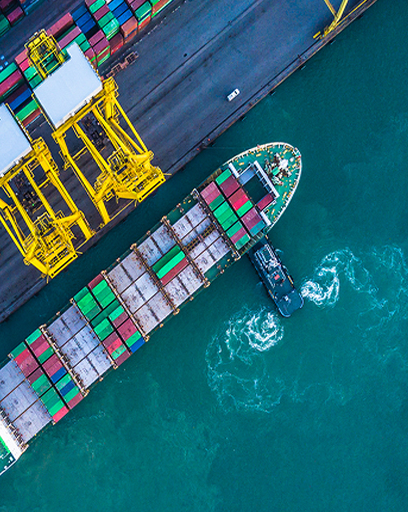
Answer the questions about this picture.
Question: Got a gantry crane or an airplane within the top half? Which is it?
gantry crane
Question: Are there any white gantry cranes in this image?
No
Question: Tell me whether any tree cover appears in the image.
No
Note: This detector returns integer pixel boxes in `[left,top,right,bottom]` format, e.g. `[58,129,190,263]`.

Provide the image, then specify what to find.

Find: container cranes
[313,0,369,44]
[0,105,99,283]
[18,28,173,231]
